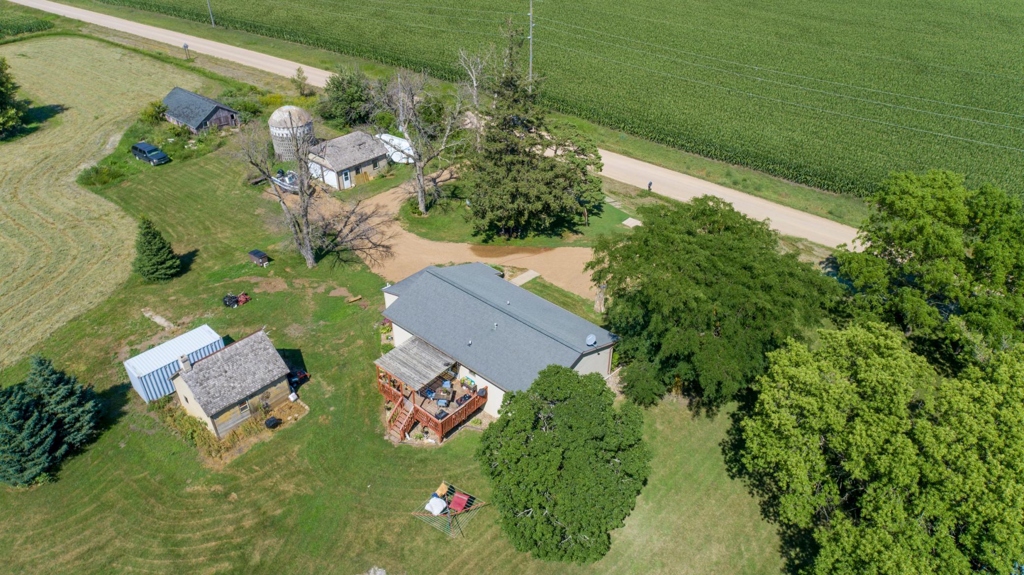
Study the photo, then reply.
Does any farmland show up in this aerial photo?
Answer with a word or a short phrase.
Yes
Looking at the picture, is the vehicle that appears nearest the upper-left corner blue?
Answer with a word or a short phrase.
Yes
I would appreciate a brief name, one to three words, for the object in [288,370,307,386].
work vehicle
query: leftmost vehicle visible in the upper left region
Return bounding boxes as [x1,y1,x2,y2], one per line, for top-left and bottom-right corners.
[129,139,171,165]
